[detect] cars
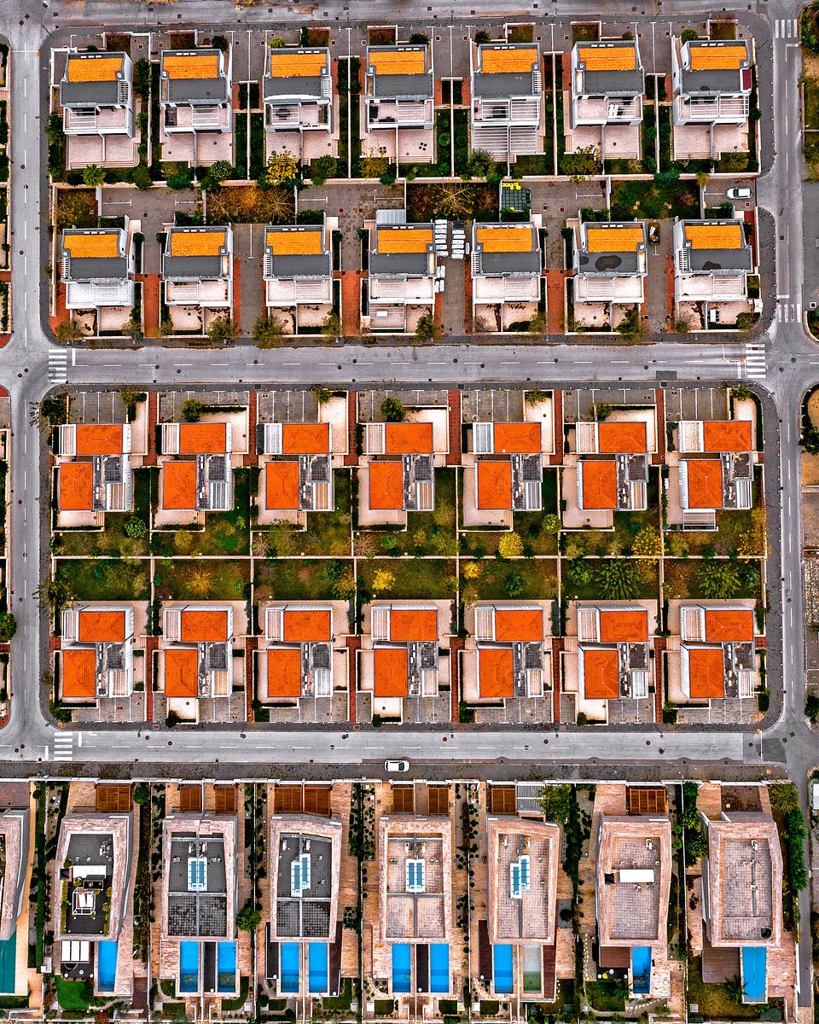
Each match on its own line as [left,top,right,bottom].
[385,761,408,773]
[728,187,752,198]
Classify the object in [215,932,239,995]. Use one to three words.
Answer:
swimming pool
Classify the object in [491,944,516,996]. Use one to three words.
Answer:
swimming pool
